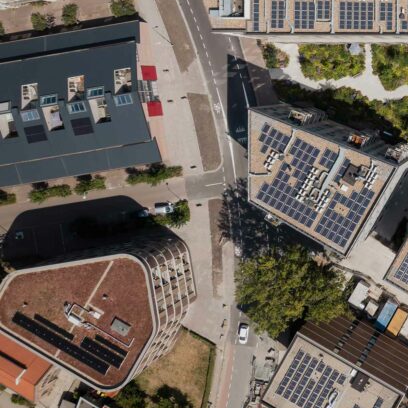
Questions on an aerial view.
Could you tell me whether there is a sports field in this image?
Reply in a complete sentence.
No, the picture doesn't show any sports field.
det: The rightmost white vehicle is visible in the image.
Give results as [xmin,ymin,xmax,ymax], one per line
[237,320,250,342]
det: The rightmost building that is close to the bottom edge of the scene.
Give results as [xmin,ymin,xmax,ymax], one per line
[262,299,408,408]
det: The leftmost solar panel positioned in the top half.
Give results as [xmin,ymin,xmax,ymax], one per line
[24,125,47,143]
